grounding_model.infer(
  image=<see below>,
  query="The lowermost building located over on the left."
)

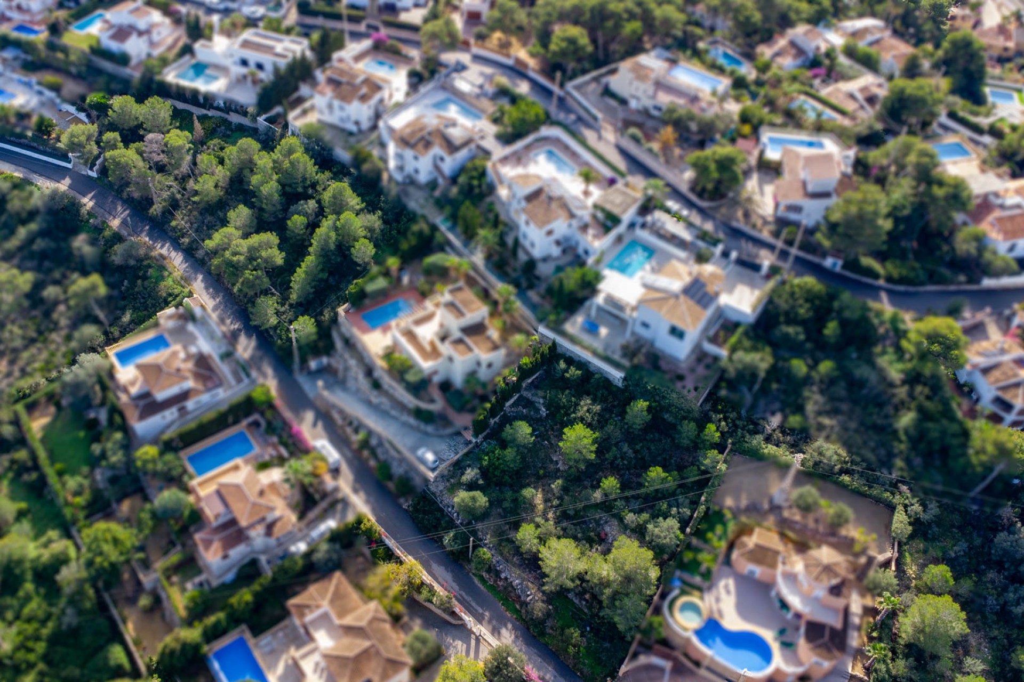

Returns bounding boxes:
[282,567,418,682]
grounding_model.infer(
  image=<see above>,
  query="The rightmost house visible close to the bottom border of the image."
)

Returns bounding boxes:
[725,527,859,682]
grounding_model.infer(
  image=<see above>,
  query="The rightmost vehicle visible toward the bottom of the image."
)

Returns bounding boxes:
[416,446,443,470]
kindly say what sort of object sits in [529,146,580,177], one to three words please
swimming pool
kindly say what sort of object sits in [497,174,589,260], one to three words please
house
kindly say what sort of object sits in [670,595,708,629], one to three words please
swimming pool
